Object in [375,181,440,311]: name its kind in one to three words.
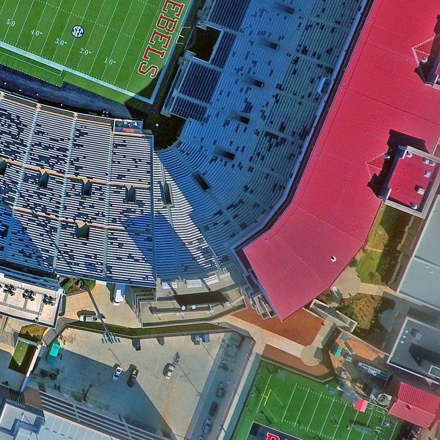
building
